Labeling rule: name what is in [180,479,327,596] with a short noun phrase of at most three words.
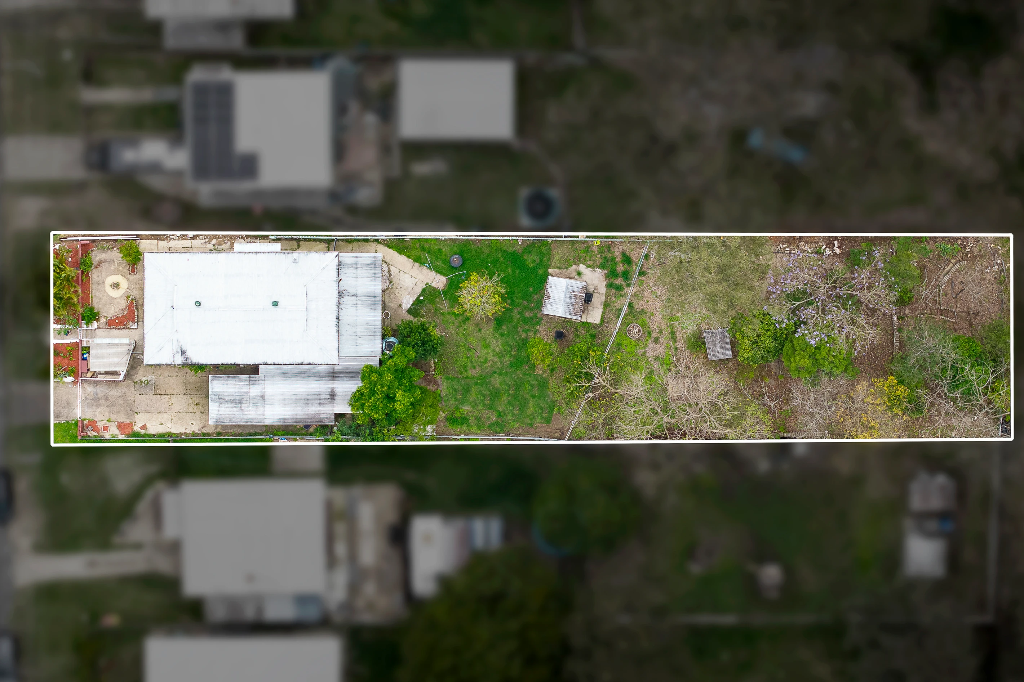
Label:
house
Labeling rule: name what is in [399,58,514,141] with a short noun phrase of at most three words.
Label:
building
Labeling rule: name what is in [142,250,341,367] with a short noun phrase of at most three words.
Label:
house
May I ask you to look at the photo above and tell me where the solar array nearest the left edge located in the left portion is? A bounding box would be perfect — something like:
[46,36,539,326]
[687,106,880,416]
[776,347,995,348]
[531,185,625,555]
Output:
[192,81,257,181]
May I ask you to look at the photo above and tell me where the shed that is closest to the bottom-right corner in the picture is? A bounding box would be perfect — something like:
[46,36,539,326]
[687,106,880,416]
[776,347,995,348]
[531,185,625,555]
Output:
[898,532,946,579]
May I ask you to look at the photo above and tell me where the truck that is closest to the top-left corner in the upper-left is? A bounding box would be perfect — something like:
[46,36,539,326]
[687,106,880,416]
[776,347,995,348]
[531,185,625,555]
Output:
[81,136,163,170]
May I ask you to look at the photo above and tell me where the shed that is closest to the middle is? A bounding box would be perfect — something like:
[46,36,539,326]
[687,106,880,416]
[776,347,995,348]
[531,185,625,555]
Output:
[542,276,587,320]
